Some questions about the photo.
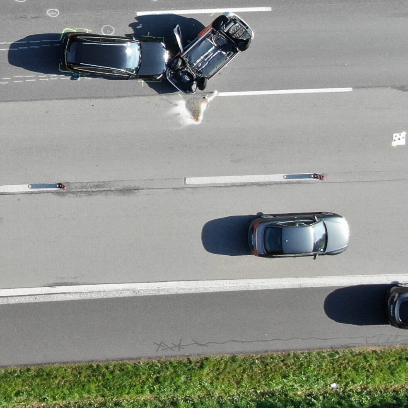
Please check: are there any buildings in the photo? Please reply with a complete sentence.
No, the frame has no building in it.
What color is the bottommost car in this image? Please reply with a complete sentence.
The bottommost car looks black in the image.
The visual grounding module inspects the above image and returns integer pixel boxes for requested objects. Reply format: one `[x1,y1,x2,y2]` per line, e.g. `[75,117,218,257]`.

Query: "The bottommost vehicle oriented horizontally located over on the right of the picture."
[244,212,351,262]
